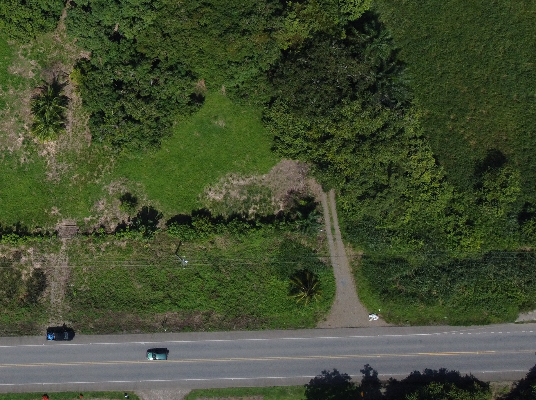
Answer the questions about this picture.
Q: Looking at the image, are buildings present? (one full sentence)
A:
No, the picture doesn't show any building.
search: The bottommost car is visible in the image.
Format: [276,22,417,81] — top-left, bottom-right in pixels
[146,352,170,365]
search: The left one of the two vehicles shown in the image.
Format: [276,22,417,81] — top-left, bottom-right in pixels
[46,331,76,344]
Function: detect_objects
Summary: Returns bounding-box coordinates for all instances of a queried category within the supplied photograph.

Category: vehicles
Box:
[46,331,76,344]
[146,352,170,365]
